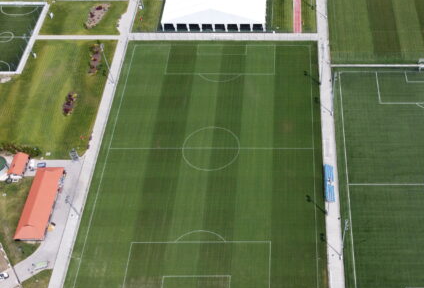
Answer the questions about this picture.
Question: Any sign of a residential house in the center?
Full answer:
No, there's no residential house to be seen in the center.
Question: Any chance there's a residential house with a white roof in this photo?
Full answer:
No, no residential house with a white roof is visible in the view.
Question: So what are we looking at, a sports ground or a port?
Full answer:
This image shows a sports ground.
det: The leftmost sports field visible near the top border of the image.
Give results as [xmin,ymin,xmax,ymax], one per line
[0,5,45,71]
